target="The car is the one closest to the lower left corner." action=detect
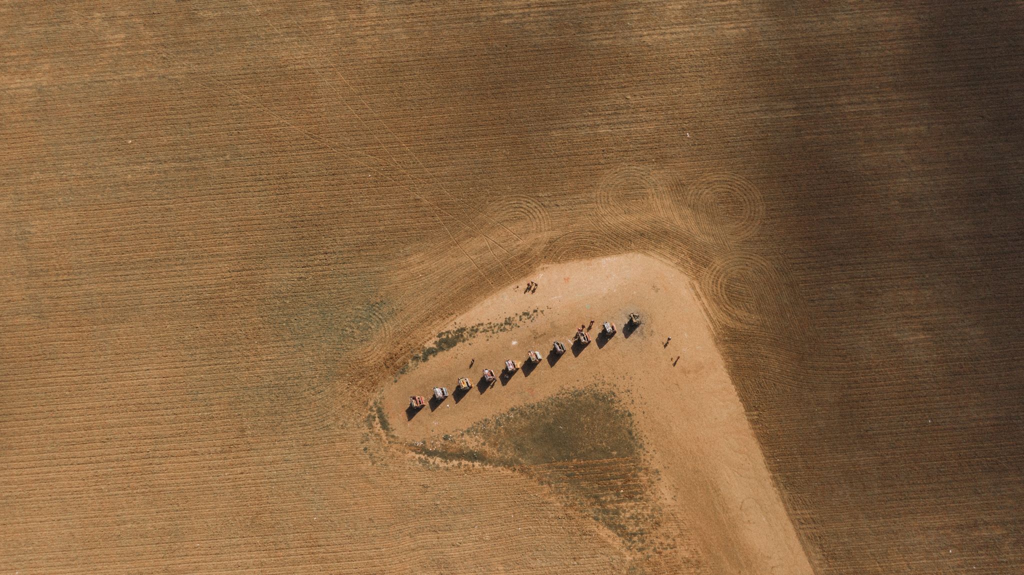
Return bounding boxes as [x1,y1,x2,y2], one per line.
[409,393,426,408]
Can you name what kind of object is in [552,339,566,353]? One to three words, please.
car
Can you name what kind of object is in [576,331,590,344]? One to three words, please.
vehicle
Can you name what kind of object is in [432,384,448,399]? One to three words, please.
car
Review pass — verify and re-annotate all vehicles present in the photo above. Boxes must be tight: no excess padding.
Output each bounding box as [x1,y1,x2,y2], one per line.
[504,357,519,372]
[552,339,566,353]
[526,348,541,362]
[576,331,590,344]
[481,367,496,381]
[602,320,615,334]
[629,311,640,324]
[456,375,472,389]
[409,393,426,408]
[432,384,448,399]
